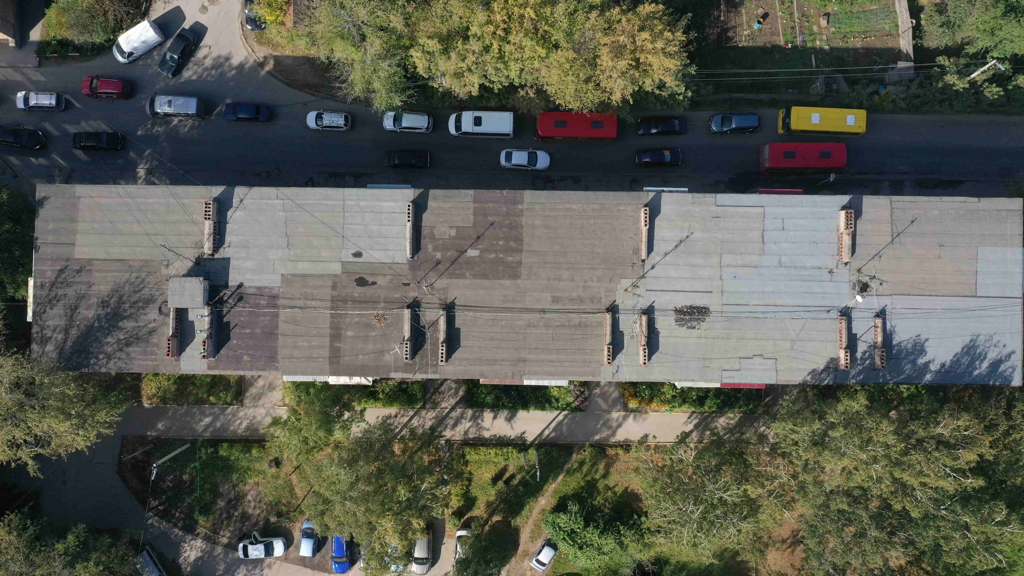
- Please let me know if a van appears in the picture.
Yes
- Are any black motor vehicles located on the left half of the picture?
Yes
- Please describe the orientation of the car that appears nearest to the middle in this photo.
from left to right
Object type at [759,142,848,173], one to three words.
vehicle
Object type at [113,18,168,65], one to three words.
van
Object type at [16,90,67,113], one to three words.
car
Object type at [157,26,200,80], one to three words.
car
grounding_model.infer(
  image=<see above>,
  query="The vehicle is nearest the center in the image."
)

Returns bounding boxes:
[501,147,551,171]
